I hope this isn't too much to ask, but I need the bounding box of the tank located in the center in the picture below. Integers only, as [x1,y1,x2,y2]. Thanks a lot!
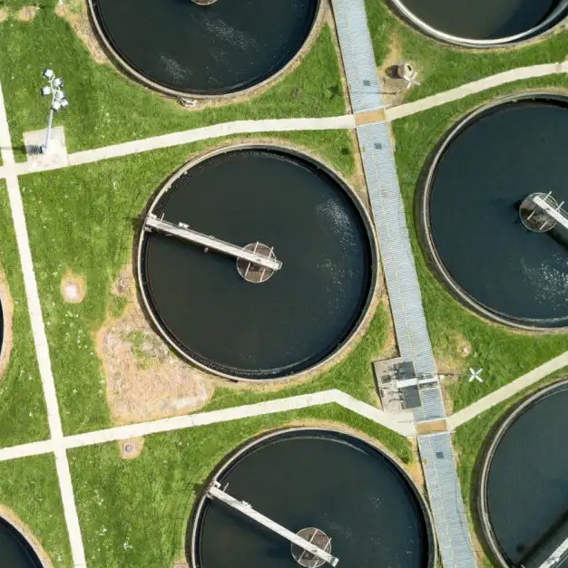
[138,140,381,383]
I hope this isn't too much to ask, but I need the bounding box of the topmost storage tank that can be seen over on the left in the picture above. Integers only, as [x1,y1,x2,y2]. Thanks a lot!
[88,0,325,100]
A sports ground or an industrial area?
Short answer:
industrial area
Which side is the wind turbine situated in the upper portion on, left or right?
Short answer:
right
